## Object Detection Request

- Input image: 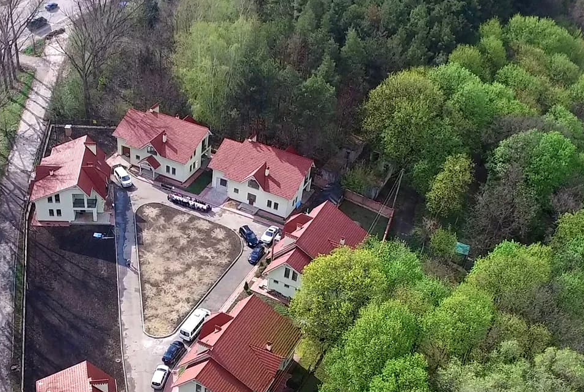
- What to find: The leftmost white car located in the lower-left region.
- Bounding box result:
[151,368,168,387]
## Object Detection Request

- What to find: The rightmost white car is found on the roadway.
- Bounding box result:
[262,227,278,242]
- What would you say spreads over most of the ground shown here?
trees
